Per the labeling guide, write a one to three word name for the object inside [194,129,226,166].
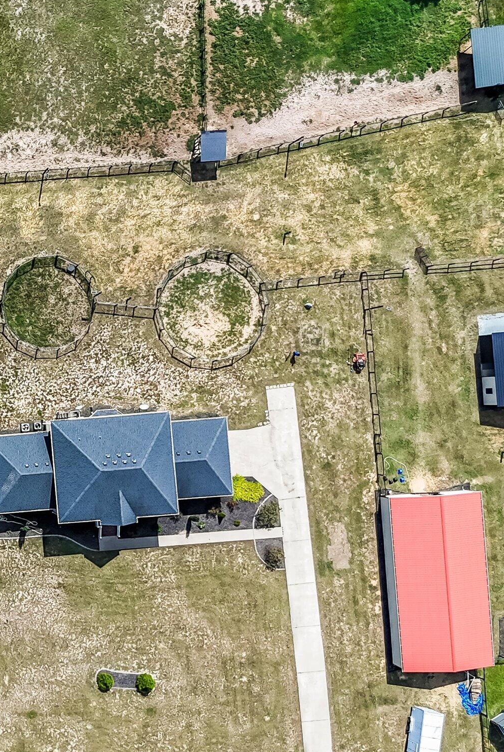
shed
